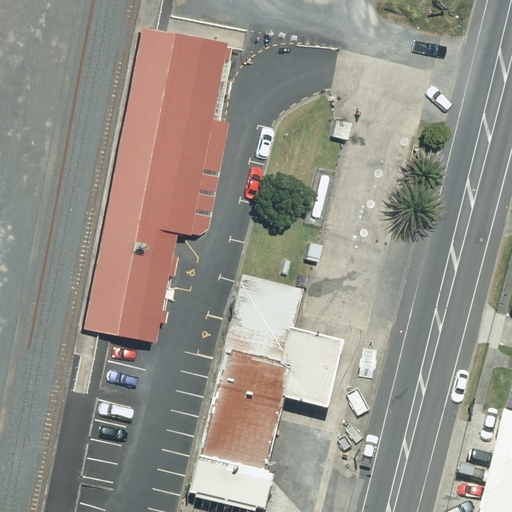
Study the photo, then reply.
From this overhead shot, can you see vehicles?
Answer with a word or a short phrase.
Yes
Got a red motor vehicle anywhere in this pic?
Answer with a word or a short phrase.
Yes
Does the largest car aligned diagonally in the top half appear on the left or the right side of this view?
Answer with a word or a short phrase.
right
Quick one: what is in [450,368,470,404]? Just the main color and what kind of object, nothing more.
white car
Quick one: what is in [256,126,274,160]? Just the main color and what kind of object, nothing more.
white car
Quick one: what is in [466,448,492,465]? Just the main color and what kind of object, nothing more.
gray car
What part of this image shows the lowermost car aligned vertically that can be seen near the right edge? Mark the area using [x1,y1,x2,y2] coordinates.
[480,408,497,441]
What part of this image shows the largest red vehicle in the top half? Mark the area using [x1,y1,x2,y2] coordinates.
[246,166,263,200]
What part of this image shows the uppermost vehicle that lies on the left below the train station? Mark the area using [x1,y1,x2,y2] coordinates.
[110,348,138,363]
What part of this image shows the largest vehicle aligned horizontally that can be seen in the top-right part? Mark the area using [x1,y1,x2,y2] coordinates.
[410,40,448,58]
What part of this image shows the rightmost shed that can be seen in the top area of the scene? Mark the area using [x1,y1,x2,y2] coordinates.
[332,120,352,141]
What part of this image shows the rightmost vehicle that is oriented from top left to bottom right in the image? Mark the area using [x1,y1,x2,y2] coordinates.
[424,84,452,114]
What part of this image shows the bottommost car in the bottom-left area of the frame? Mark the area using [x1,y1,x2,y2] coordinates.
[98,425,128,442]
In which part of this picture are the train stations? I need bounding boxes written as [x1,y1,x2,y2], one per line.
[82,28,232,344]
